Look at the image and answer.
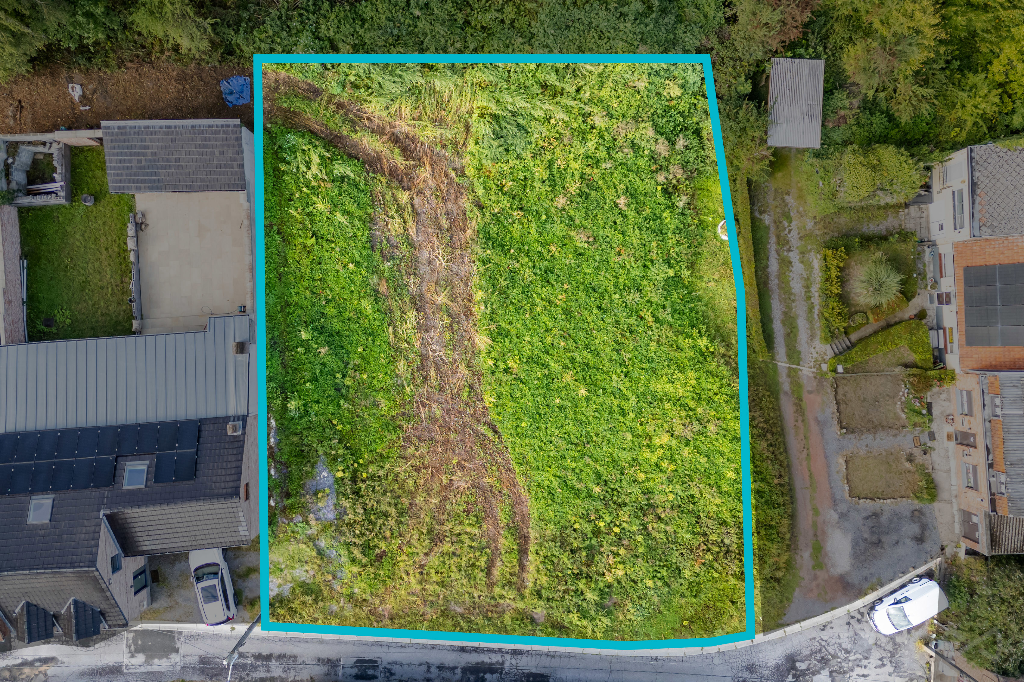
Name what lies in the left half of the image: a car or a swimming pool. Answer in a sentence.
Looking in the left half of the image, you will find a car.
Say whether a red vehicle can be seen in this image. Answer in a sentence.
No, no red vehicle is visible in the view.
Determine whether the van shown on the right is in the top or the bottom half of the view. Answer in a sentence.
It is in the bottom half that the van shown on the right appears.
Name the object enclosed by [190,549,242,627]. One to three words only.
car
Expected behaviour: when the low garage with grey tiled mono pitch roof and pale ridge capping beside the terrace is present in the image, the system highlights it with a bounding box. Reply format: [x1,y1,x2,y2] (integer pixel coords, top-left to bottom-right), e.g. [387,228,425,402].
[100,118,263,200]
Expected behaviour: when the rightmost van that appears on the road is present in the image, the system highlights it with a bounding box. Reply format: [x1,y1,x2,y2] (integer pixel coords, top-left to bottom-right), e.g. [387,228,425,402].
[864,574,956,638]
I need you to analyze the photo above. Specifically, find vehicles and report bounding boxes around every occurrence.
[190,549,242,627]
[864,574,956,638]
